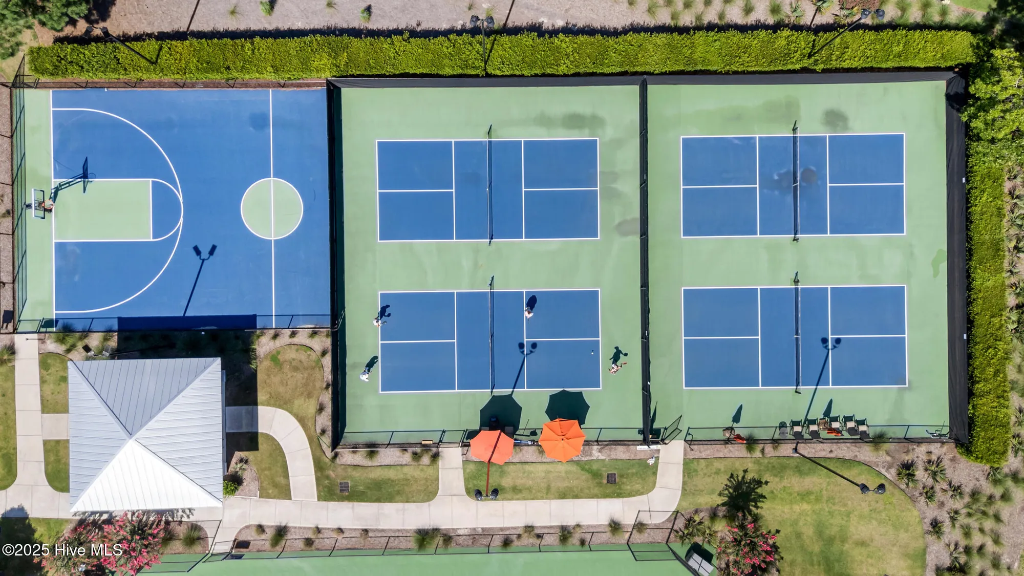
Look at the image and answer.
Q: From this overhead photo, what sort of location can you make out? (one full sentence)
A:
What you see here is a sports ground.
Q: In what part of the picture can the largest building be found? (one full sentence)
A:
The largest building sits in the bottom left section of the image.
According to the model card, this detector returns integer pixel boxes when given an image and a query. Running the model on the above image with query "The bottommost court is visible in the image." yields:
[145,542,718,576]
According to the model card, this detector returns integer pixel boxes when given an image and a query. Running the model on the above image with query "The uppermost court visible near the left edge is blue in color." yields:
[13,88,329,332]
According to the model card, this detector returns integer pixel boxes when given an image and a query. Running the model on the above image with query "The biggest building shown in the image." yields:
[68,357,229,513]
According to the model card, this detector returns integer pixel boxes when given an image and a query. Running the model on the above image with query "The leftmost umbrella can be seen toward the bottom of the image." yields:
[470,430,514,465]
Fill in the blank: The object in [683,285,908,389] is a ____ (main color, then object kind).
blue sports court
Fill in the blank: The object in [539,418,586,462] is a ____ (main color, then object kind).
orange umbrella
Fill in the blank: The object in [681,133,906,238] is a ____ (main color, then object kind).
blue sports court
